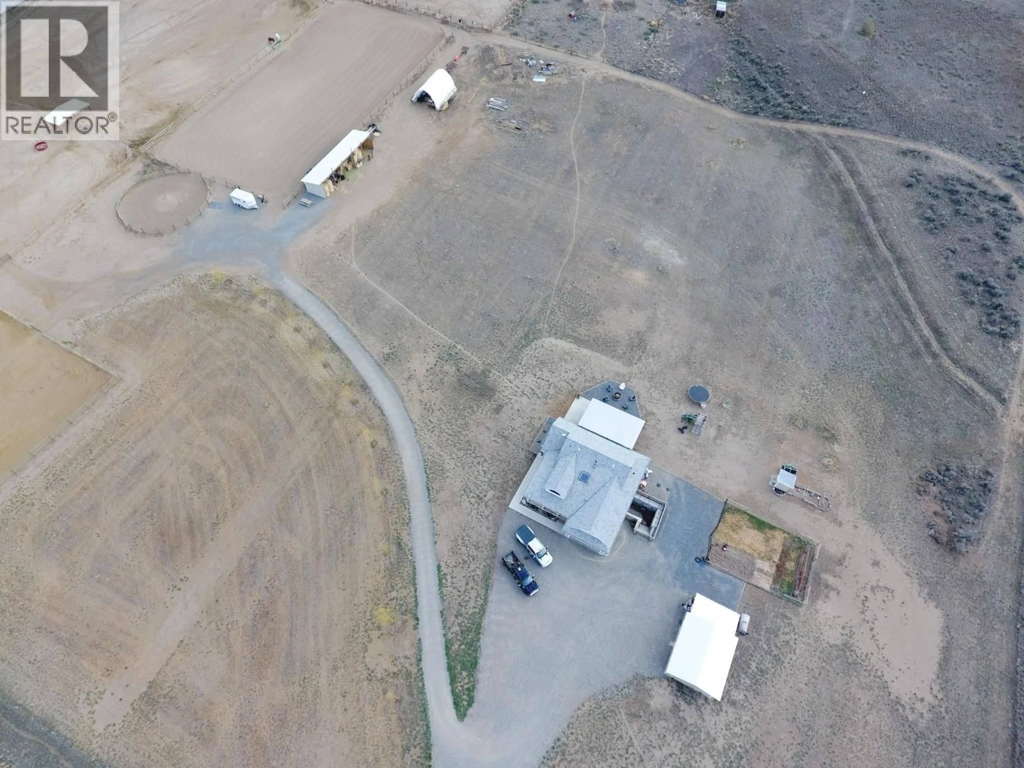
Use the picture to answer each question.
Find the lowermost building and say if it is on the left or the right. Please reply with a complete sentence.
The lowermost building appears in the right half of the scene.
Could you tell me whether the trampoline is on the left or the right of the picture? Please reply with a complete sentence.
It is on the right.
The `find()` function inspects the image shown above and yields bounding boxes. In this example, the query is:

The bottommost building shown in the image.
[663,593,743,702]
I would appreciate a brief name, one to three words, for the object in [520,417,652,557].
house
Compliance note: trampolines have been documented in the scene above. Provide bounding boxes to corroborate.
[688,385,710,406]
